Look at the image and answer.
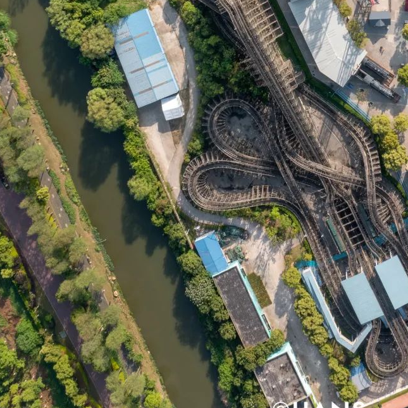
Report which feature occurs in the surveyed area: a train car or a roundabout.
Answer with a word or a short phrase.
train car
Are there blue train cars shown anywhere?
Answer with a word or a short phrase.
No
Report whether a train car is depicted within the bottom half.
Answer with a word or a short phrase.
No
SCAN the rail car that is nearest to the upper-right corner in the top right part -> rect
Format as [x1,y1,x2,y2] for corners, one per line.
[364,56,394,79]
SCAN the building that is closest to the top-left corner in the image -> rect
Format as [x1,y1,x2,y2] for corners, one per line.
[107,8,180,107]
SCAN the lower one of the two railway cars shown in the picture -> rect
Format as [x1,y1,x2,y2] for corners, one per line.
[356,71,401,102]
